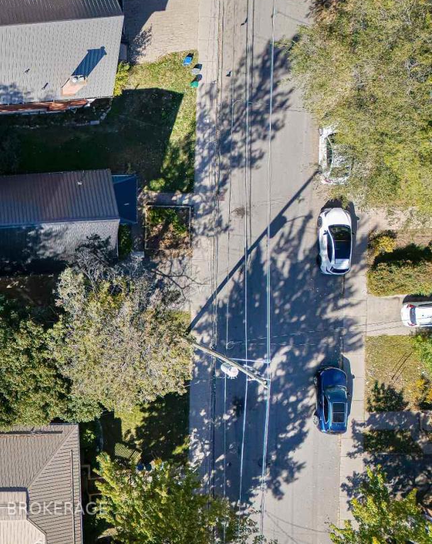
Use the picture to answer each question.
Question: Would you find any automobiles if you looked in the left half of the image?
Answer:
No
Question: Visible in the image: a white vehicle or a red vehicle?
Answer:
white vehicle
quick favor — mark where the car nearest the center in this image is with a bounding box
[316,208,356,274]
